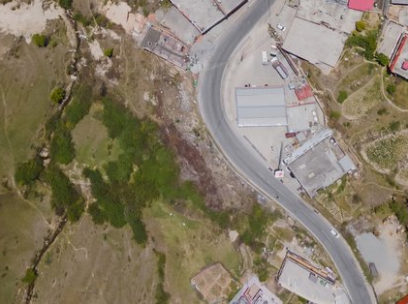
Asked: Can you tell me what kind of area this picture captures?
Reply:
residential area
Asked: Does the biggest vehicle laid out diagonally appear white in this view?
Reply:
Yes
